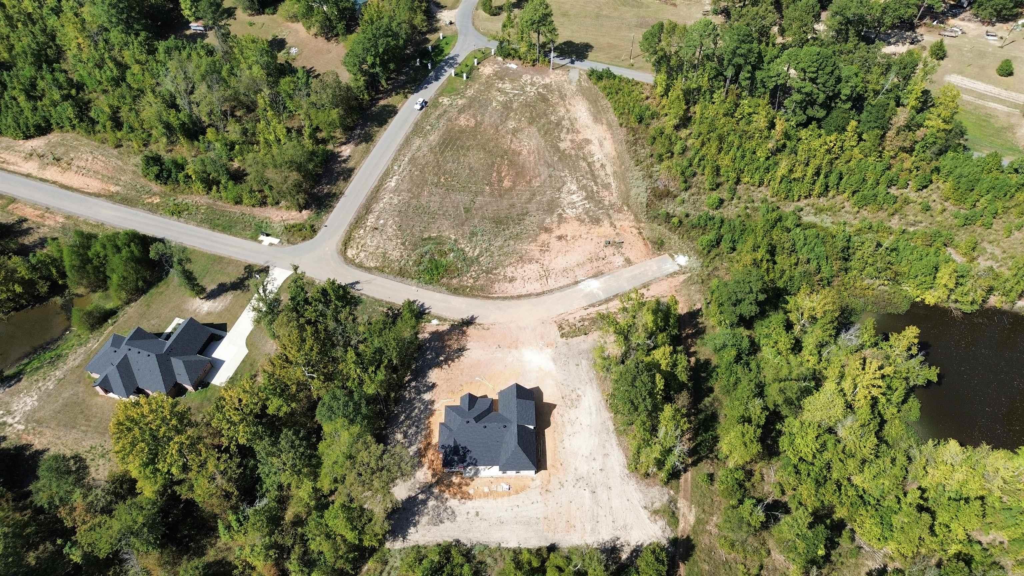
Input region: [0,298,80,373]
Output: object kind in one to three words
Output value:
pond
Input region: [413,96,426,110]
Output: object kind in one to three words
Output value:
vehicle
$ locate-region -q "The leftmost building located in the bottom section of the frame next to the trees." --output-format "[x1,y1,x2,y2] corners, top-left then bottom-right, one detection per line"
[84,315,215,408]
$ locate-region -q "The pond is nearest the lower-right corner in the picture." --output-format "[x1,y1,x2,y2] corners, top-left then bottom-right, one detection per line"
[862,304,1024,448]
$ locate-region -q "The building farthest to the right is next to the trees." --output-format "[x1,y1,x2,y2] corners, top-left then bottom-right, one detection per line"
[437,381,537,476]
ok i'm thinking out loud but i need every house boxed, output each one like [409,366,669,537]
[437,381,537,476]
[84,315,215,408]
